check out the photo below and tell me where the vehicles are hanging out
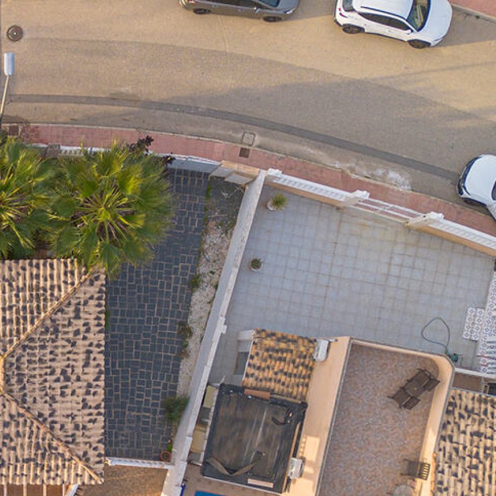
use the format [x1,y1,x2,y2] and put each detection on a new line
[340,0,458,49]
[179,0,300,22]
[460,156,496,214]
